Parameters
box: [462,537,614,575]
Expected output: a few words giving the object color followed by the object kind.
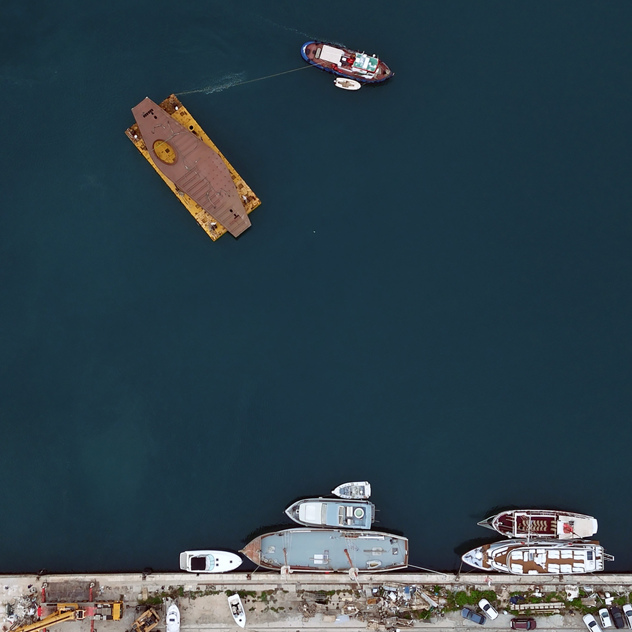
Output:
white boat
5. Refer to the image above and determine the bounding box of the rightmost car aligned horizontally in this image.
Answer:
[511,618,537,631]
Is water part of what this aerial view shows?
Yes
